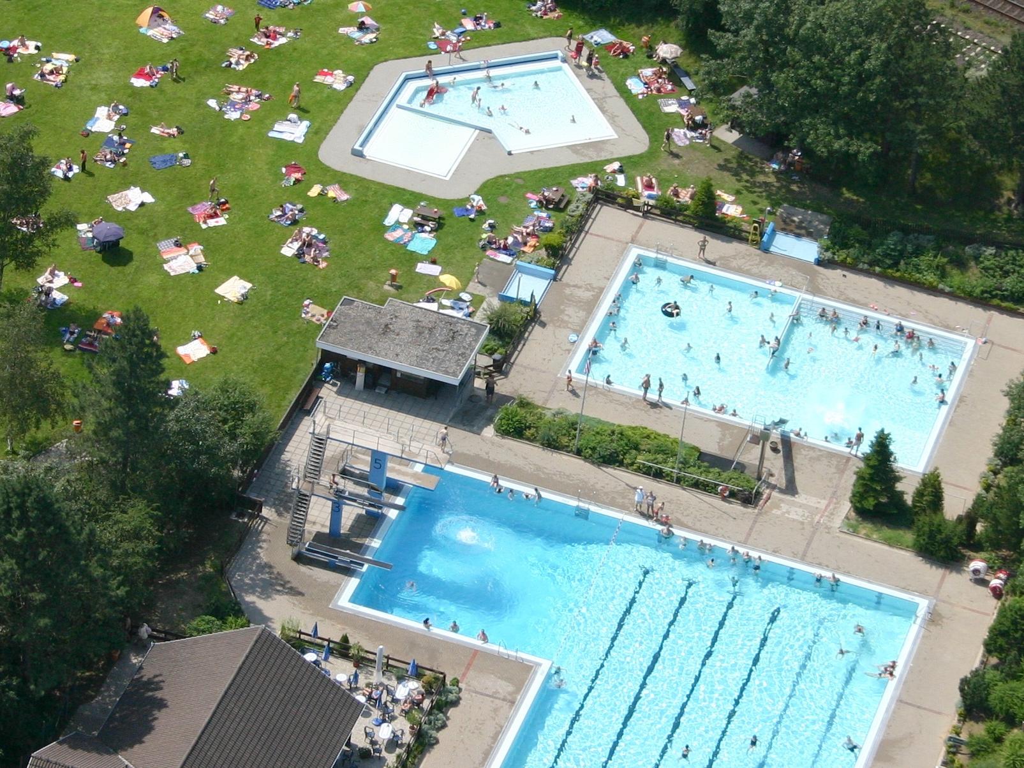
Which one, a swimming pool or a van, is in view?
swimming pool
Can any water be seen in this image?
Yes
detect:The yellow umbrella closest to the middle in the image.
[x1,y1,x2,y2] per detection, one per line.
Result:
[432,274,457,303]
